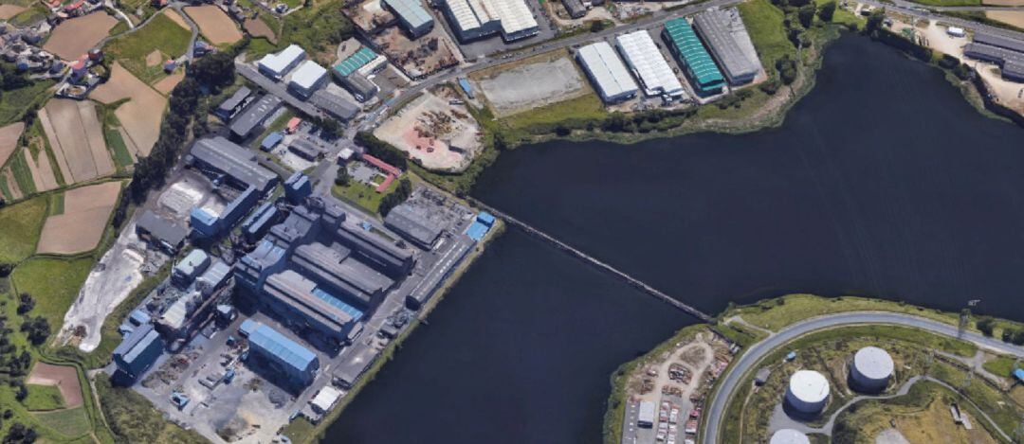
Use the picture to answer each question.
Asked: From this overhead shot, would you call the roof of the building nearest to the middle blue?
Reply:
Yes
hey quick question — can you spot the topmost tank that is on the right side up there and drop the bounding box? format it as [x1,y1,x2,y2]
[852,346,894,389]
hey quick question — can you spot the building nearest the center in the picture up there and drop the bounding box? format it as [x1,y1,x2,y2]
[465,211,495,245]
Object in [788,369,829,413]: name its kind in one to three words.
storage tank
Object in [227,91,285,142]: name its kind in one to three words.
building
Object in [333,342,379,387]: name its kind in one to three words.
shed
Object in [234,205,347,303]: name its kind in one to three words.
building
